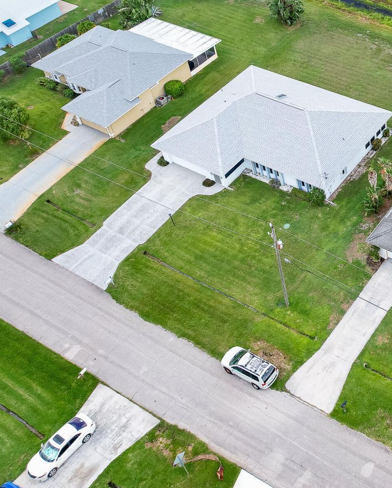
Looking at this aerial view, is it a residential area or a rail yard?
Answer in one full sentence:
The picture captures a residential area.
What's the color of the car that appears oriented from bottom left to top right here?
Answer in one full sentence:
From above, the car that appears oriented from bottom left to top right appears white.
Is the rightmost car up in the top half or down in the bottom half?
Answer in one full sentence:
Seen from above, the rightmost car lies in the bottom half of the view.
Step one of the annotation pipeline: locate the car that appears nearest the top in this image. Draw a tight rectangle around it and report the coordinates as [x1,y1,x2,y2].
[219,344,280,391]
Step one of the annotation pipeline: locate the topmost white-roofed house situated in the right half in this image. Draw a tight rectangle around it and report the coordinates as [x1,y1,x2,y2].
[149,65,392,208]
